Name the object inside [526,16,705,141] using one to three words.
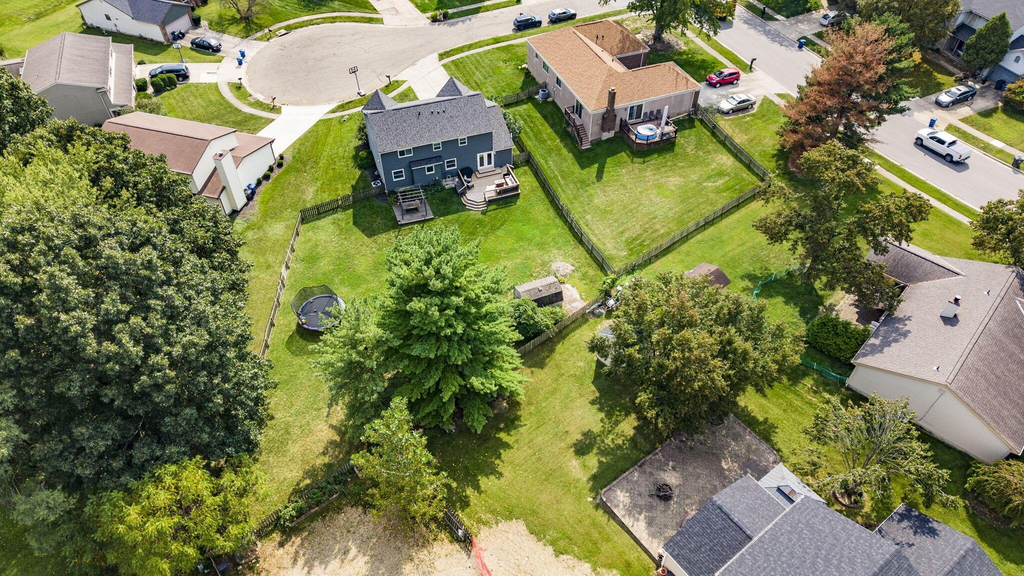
house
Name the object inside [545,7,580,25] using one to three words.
car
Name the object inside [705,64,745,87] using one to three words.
car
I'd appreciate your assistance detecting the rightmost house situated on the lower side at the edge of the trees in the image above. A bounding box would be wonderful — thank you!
[846,237,1024,470]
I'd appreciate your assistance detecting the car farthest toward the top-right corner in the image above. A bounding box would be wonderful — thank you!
[937,84,979,105]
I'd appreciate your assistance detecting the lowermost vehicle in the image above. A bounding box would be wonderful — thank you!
[914,129,973,164]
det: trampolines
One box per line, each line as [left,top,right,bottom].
[294,279,347,331]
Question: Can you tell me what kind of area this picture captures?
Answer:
residential area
